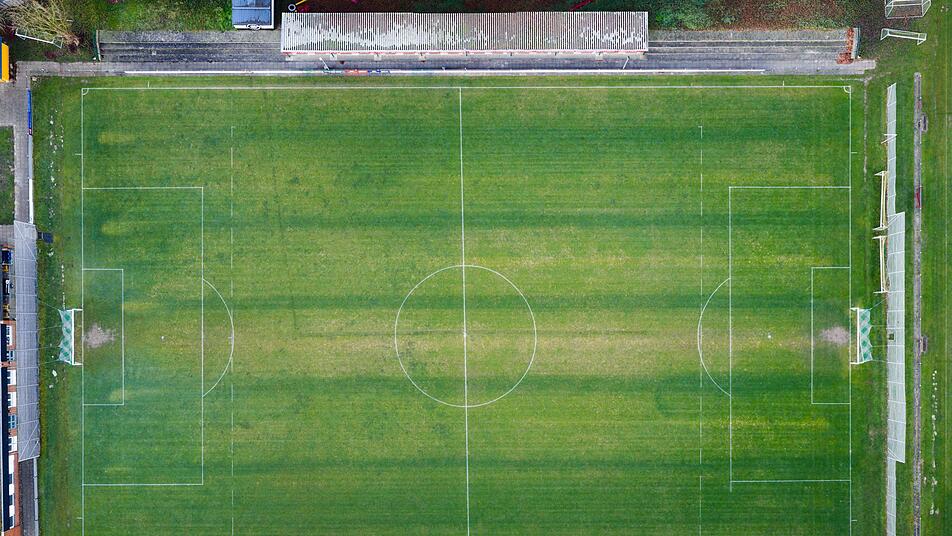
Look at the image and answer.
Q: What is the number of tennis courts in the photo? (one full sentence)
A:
The picture shows no tennis courts.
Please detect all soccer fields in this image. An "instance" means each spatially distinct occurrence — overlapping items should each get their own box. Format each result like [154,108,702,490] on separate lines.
[64,80,866,536]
